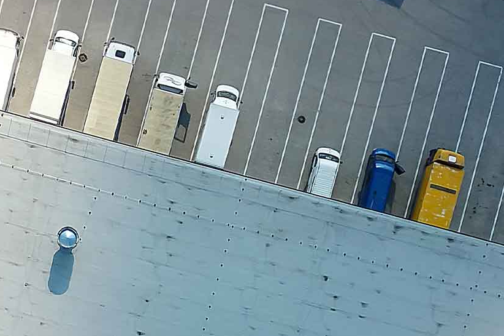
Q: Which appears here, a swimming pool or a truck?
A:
truck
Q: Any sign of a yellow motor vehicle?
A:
Yes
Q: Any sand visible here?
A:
No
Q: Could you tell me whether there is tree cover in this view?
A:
No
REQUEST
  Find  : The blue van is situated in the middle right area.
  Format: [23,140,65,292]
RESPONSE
[358,146,407,204]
